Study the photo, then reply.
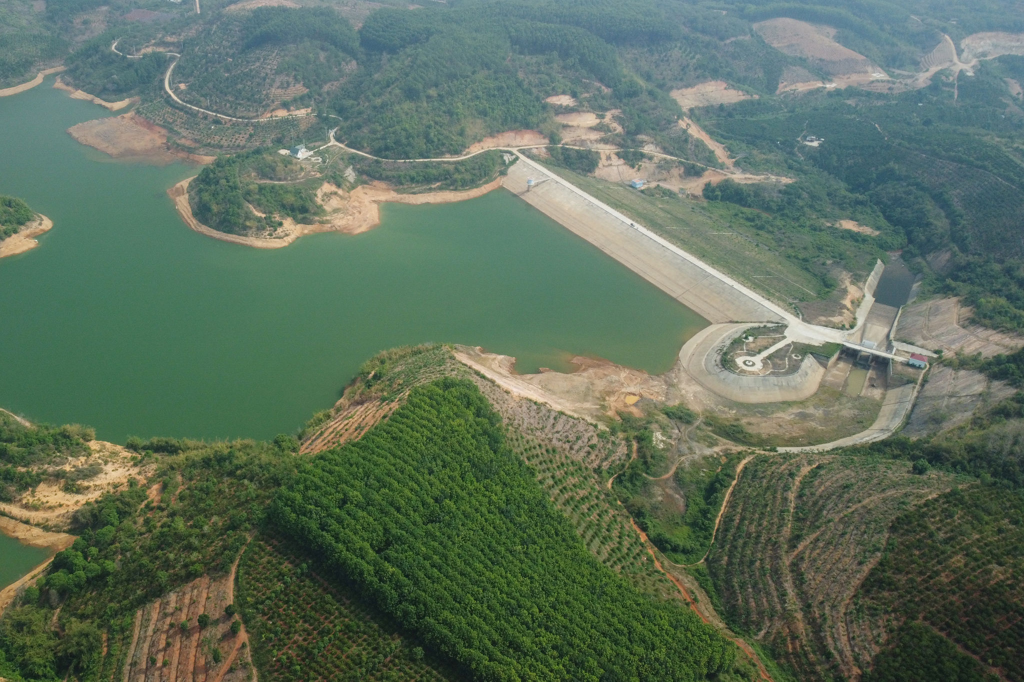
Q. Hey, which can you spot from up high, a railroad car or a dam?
dam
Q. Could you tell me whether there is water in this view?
Yes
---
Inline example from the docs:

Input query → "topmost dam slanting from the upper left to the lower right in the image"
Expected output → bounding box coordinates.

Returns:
[502,157,816,324]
